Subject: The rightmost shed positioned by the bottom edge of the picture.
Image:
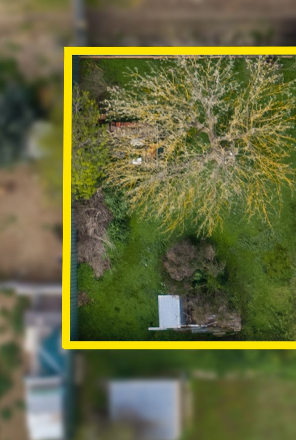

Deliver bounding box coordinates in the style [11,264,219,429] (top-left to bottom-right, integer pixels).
[109,378,187,440]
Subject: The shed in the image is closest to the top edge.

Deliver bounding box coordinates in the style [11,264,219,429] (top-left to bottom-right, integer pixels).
[158,296,187,329]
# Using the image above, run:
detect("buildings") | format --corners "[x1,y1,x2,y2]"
[158,296,187,329]
[109,378,187,440]
[25,378,67,440]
